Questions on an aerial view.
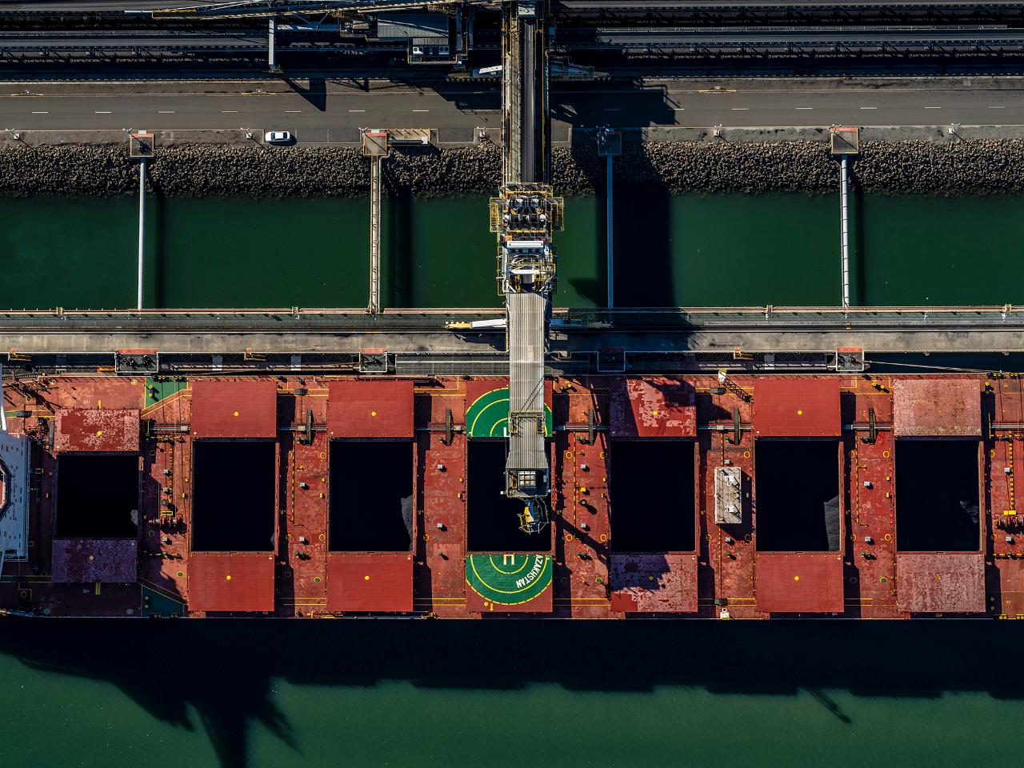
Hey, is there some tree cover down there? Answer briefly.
No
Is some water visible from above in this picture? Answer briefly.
Yes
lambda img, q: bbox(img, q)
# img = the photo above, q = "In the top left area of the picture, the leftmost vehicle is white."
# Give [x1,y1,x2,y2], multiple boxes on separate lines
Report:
[265,131,290,143]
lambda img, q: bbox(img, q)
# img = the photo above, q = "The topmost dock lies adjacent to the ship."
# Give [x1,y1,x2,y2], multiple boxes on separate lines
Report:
[0,303,1024,354]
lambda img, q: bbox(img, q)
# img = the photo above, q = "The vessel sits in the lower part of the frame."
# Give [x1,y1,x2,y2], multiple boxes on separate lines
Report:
[0,362,1024,620]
